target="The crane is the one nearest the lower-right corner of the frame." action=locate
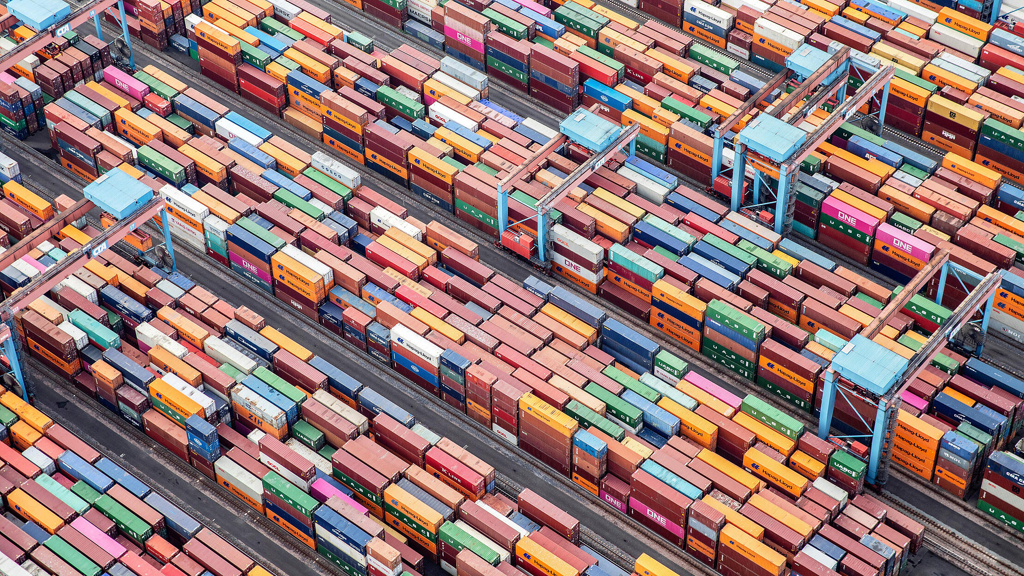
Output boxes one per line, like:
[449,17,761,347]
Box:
[818,244,1006,491]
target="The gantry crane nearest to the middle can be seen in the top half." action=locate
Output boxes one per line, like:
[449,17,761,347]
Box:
[494,97,643,275]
